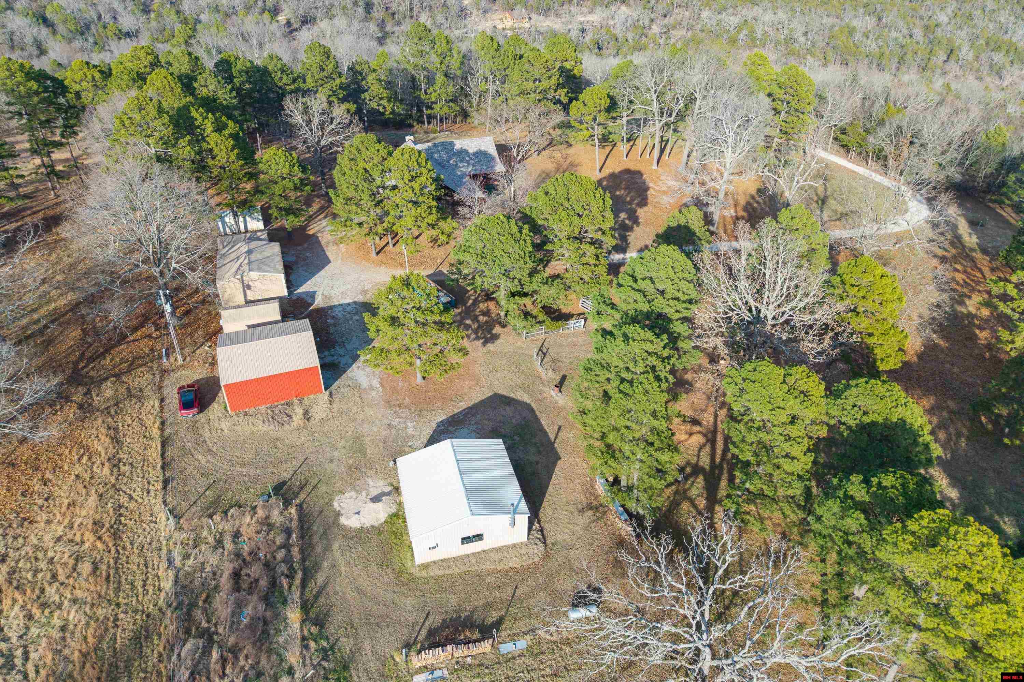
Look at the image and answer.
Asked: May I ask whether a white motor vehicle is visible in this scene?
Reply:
No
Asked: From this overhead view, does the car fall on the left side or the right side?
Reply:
left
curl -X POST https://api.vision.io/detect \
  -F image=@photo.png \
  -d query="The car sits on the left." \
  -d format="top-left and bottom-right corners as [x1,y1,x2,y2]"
[174,381,204,424]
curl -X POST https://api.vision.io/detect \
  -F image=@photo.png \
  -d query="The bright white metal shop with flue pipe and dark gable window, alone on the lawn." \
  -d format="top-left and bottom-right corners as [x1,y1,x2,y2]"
[394,437,532,567]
